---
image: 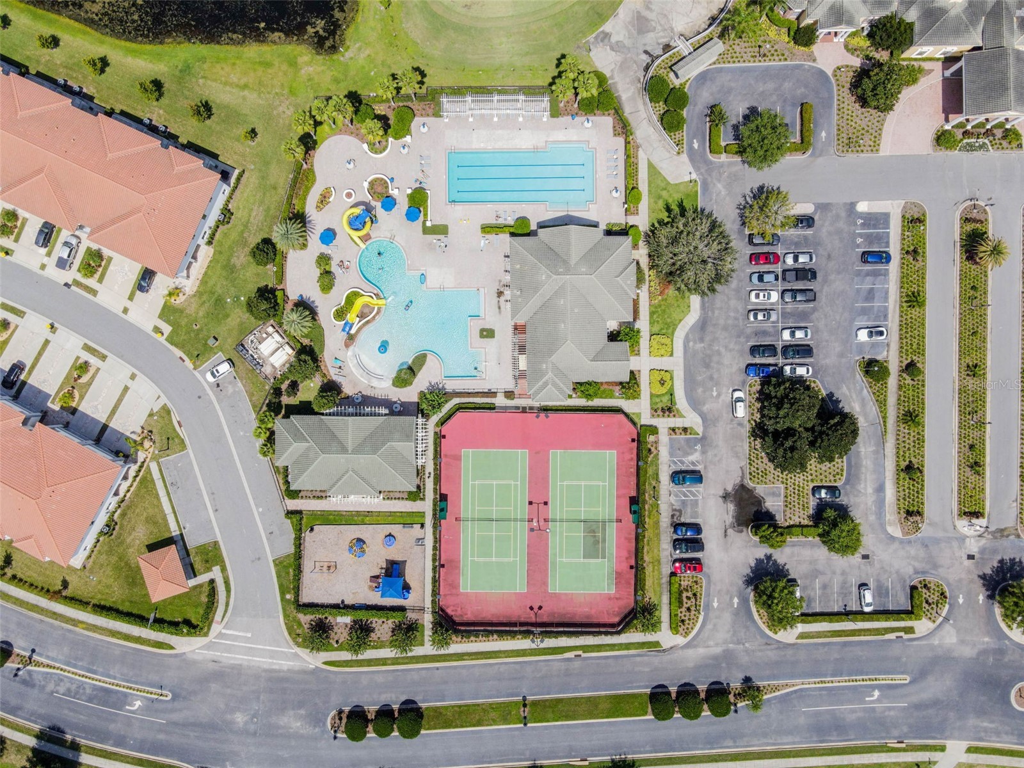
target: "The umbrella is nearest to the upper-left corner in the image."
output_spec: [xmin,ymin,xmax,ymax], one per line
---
[320,230,335,245]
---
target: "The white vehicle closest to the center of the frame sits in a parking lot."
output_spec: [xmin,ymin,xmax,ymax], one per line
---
[730,389,745,418]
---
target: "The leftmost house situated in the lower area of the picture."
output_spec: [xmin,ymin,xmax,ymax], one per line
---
[0,391,134,567]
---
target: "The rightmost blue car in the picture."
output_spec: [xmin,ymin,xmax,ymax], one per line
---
[859,250,889,264]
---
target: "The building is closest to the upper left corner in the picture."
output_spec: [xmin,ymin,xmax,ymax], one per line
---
[0,66,245,279]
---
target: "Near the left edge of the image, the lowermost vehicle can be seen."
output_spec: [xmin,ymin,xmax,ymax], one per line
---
[3,360,25,390]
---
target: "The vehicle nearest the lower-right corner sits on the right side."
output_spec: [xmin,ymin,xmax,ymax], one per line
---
[857,582,873,611]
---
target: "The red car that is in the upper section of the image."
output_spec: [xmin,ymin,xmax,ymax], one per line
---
[749,252,779,265]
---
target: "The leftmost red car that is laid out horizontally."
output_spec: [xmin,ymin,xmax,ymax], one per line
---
[672,560,702,574]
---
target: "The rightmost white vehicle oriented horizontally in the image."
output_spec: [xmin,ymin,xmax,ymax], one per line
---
[856,327,885,340]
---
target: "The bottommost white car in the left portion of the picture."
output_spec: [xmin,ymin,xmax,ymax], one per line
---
[206,360,236,381]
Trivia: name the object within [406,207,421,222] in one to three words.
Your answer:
umbrella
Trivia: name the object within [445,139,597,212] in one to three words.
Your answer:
swimming pool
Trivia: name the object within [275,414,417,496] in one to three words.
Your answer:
building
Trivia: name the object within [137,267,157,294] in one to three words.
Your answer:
car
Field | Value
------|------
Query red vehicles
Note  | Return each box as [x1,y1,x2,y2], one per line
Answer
[749,252,779,265]
[672,560,702,574]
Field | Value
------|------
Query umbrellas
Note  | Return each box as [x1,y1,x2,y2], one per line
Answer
[406,207,421,222]
[381,196,396,211]
[320,230,335,245]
